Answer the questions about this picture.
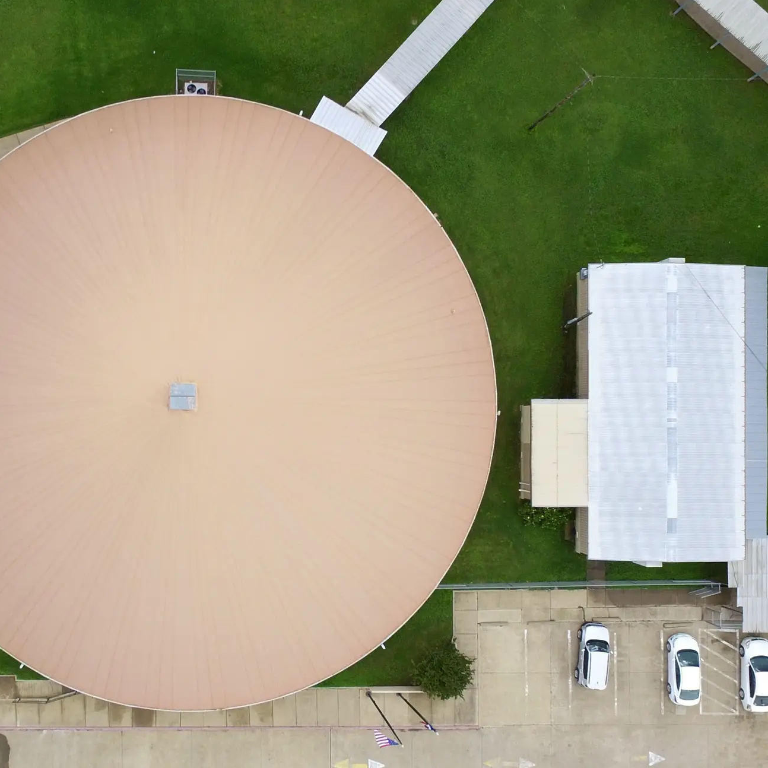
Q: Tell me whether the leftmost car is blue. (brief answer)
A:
No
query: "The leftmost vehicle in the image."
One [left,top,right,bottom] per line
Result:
[573,620,612,690]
